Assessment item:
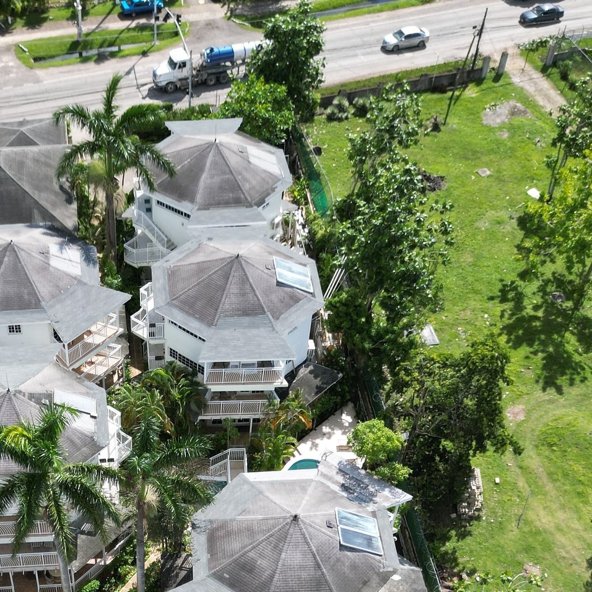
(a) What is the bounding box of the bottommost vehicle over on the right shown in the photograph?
[383,28,431,53]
